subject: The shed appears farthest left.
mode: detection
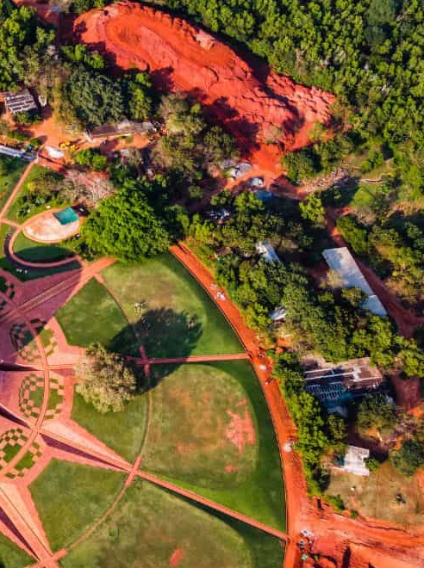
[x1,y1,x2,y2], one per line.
[1,87,38,119]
